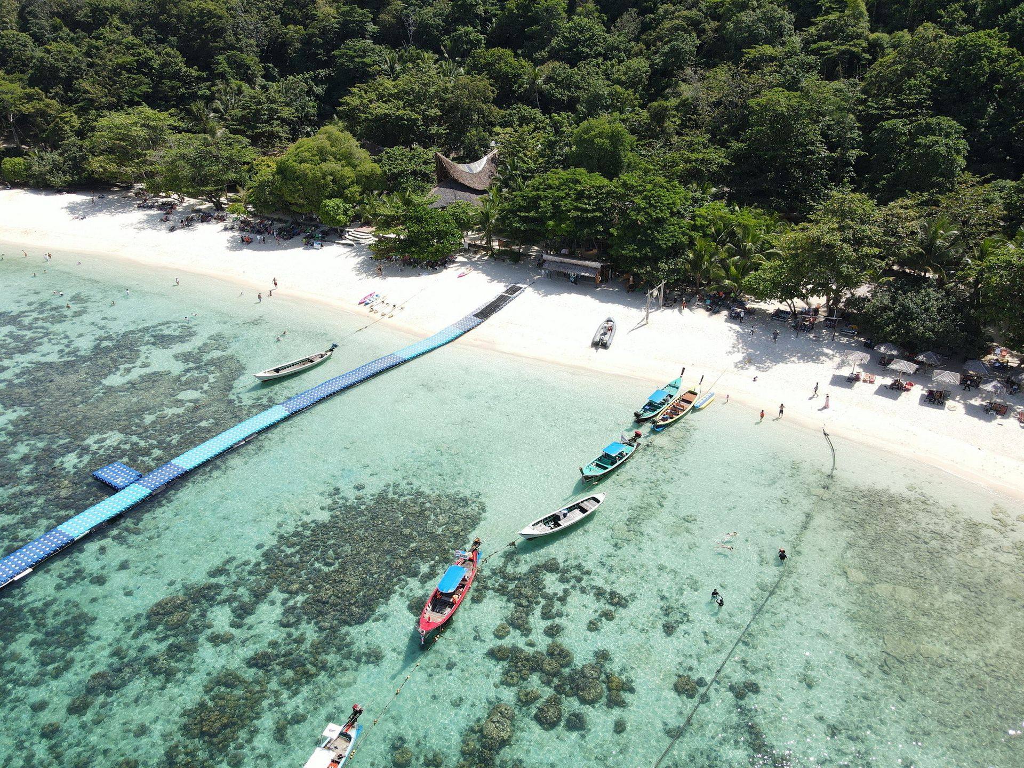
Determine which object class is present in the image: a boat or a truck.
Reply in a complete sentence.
It is a boat that can be seen here.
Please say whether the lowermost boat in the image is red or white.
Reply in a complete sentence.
The lowermost boat looks white in the image.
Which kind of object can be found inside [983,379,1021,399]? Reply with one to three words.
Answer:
umbrella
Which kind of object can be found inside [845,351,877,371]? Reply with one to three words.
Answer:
umbrella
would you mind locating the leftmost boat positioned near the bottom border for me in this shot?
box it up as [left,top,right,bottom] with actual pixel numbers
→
[301,684,378,768]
